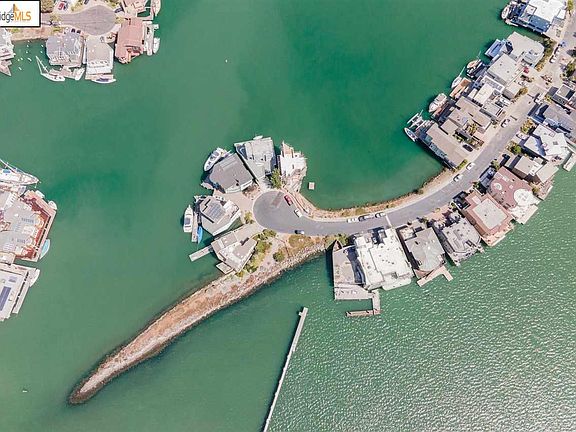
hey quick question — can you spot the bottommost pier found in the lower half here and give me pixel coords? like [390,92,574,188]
[263,307,308,432]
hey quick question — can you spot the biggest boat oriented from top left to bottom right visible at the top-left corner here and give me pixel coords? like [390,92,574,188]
[33,53,67,82]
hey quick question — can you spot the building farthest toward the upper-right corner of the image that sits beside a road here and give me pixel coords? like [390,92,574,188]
[510,0,567,40]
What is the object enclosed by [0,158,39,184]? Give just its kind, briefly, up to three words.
boat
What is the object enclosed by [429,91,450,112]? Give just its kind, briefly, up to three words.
boat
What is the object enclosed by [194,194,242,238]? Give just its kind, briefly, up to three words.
house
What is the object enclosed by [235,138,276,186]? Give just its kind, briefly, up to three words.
house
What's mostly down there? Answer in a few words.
water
